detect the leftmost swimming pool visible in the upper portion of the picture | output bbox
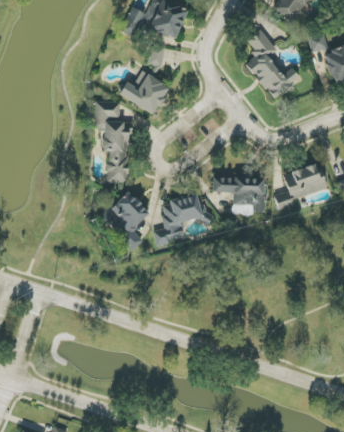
[92,138,106,182]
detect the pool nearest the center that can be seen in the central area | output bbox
[184,224,212,240]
